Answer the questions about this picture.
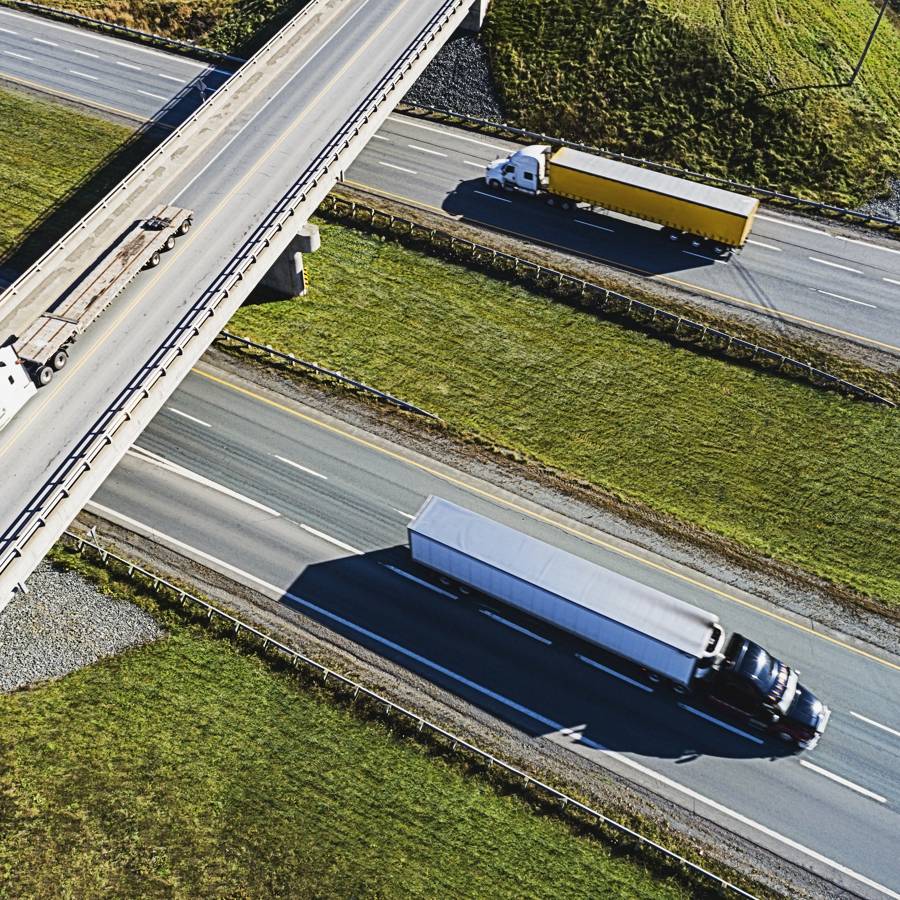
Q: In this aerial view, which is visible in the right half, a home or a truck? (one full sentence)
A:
Visible in the right half is a truck.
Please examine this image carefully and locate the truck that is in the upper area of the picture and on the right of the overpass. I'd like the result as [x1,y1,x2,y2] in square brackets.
[486,146,758,256]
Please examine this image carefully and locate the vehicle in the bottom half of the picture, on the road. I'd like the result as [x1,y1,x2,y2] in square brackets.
[407,495,830,750]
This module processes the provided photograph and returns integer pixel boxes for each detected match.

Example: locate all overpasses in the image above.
[0,0,502,601]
